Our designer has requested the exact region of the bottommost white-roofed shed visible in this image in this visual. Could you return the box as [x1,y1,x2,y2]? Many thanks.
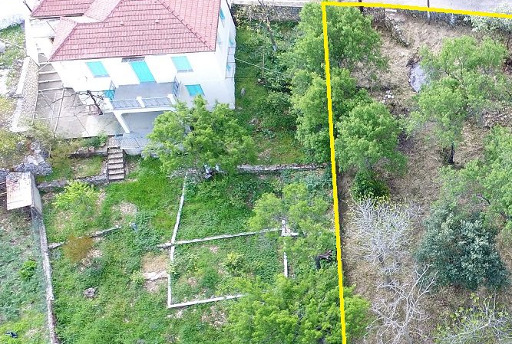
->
[7,171,41,221]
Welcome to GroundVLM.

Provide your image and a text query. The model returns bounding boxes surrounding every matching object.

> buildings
[7,171,41,221]
[26,0,236,171]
